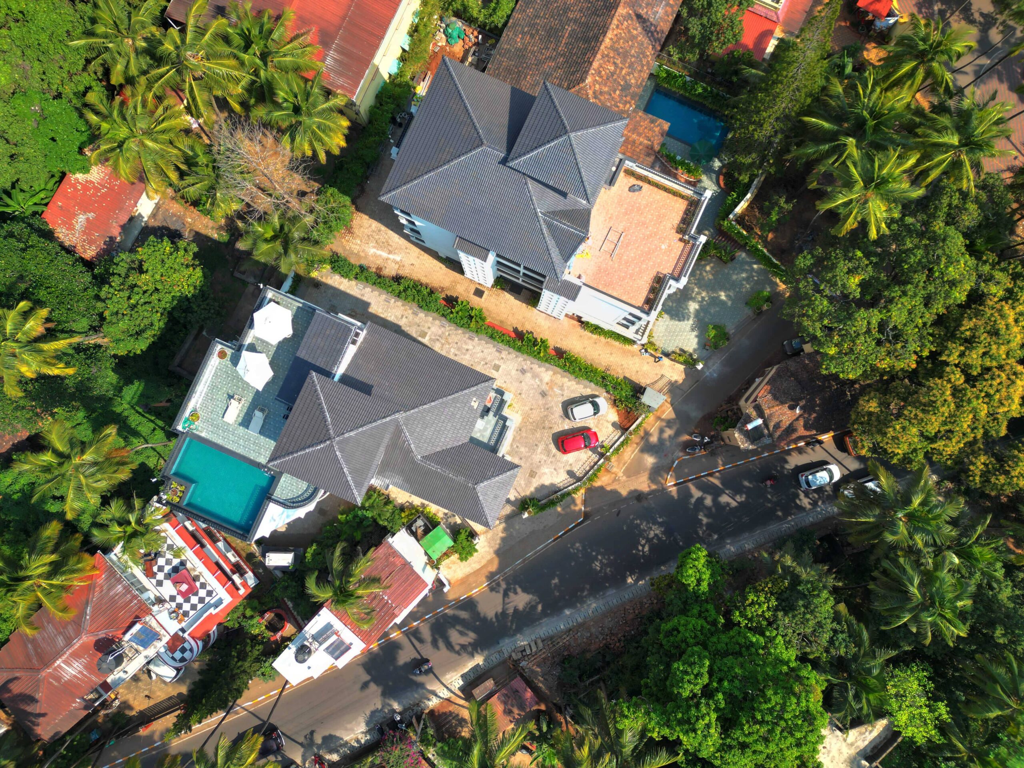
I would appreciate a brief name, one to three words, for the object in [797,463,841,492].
car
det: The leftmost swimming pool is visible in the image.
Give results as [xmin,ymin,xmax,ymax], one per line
[171,438,275,534]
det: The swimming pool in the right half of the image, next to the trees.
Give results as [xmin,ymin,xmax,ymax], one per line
[641,83,737,166]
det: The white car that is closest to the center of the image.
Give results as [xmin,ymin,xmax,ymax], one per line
[567,396,608,422]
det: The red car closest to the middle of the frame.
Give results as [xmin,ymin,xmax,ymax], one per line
[558,428,599,454]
